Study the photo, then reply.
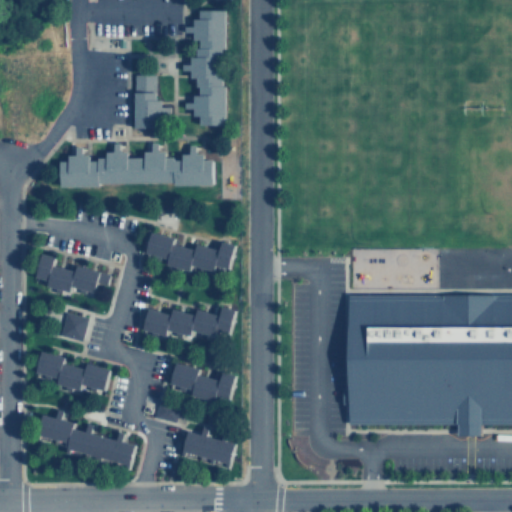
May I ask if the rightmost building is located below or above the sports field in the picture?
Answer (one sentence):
The position of the rightmost building is below the sports field.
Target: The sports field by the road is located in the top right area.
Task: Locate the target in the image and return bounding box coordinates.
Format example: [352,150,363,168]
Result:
[282,0,512,249]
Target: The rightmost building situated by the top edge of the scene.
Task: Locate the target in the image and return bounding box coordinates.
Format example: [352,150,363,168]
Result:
[184,11,228,126]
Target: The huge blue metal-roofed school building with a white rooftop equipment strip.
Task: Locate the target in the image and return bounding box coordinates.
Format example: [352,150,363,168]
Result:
[347,293,512,437]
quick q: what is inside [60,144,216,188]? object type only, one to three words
building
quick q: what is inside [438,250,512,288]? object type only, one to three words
basketball court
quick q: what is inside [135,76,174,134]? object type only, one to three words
building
